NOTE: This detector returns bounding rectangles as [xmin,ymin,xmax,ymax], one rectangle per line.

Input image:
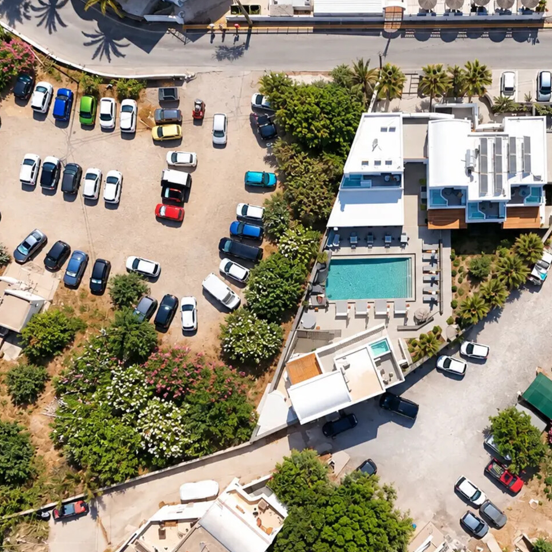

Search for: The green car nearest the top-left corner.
[78,95,97,126]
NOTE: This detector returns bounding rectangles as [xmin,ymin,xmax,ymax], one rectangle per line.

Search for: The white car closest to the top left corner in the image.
[30,81,54,113]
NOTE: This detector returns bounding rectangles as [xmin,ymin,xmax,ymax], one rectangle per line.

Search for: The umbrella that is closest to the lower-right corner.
[443,327,457,341]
